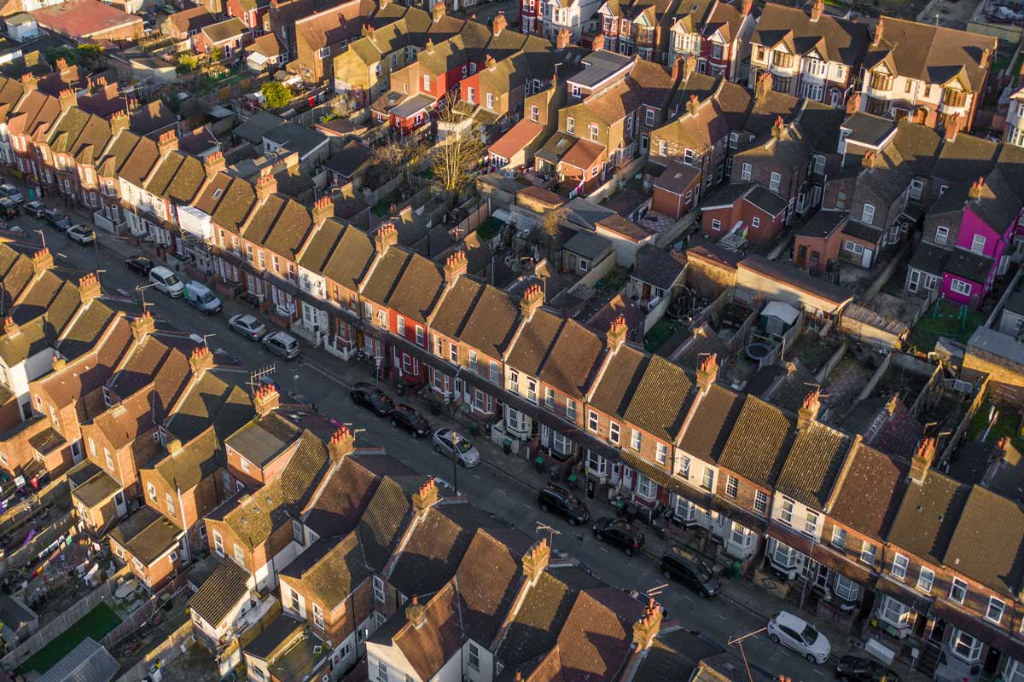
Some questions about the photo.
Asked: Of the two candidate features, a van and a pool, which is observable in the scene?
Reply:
van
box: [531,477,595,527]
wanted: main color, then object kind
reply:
black car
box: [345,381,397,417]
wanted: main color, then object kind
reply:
black car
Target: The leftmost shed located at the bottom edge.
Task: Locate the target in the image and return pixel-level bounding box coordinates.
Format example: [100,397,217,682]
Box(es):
[0,598,51,678]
